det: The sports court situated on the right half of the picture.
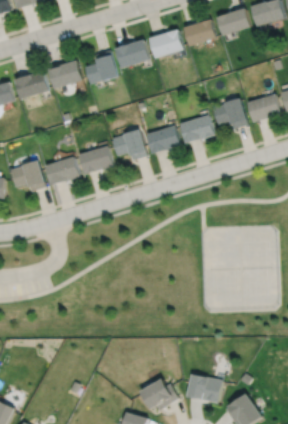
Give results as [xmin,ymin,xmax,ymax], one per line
[204,226,282,312]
